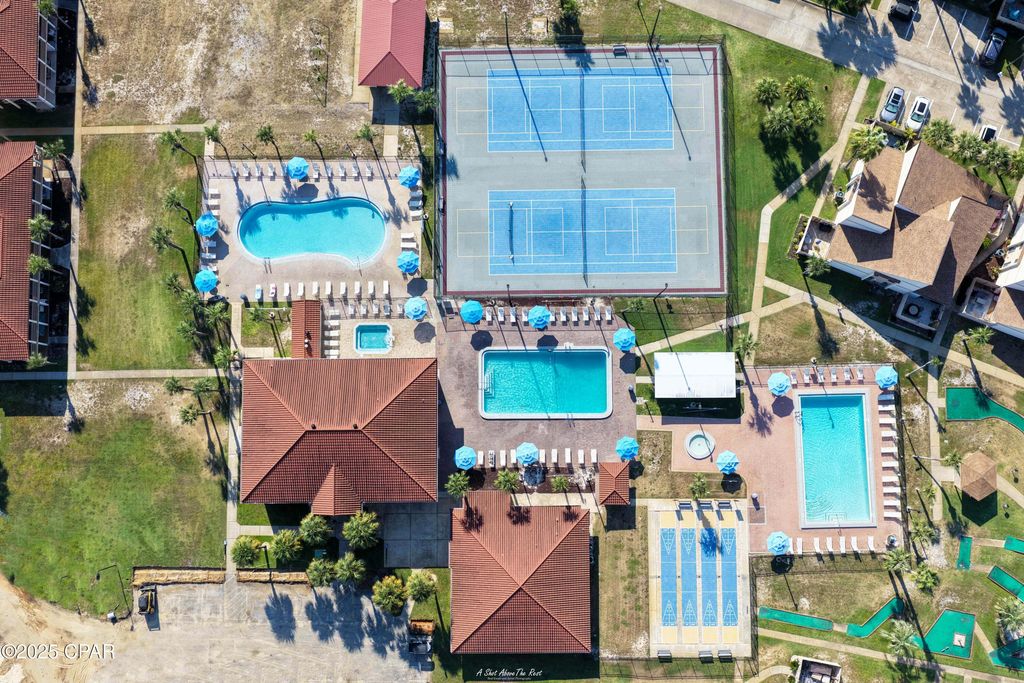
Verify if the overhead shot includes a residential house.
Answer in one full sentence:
Yes, there's a residential house here.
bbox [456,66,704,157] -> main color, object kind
blue tennis court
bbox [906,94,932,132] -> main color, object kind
white car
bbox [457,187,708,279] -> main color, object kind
blue tennis court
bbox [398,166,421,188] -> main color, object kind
blue umbrella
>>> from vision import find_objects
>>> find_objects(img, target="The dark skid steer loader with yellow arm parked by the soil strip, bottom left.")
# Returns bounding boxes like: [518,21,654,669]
[136,583,155,616]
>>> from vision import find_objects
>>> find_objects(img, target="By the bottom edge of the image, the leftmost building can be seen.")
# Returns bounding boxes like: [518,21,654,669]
[450,490,591,654]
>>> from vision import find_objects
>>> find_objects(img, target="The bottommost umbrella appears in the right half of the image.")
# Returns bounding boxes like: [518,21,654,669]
[767,531,790,554]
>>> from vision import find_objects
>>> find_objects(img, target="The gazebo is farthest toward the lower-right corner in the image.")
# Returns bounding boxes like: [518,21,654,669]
[961,451,997,501]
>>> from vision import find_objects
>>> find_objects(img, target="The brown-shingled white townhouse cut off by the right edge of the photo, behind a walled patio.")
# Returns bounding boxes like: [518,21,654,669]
[958,229,1024,338]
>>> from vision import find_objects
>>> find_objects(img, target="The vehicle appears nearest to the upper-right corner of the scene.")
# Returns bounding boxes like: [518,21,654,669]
[978,29,1007,70]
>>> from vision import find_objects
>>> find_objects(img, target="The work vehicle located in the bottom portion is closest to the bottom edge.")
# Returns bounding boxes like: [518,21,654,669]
[413,633,429,663]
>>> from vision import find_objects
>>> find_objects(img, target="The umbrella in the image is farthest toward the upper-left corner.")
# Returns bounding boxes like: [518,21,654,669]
[196,214,218,236]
